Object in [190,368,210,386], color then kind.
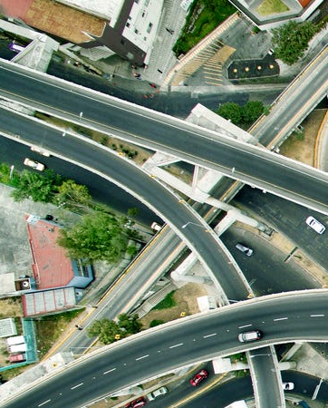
red car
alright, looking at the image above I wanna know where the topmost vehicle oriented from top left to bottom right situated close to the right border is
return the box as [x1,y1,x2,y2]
[307,216,327,234]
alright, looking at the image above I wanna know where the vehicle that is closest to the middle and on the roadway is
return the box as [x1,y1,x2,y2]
[146,219,166,233]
